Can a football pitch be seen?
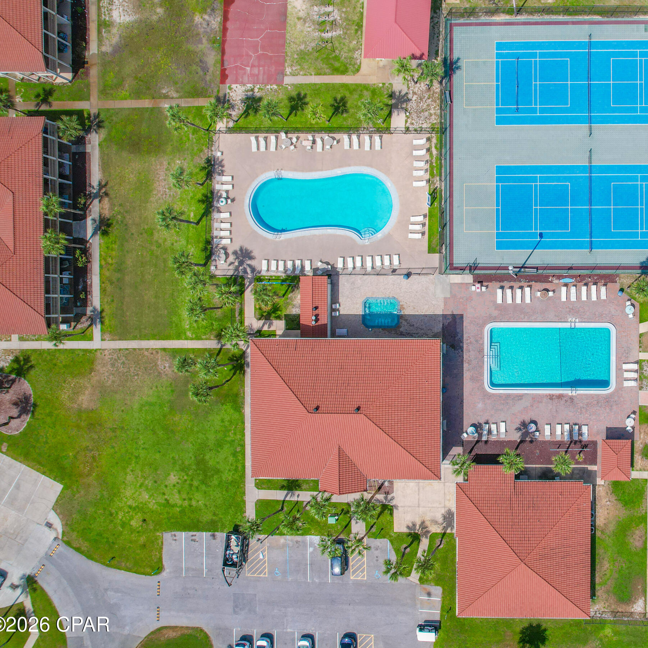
No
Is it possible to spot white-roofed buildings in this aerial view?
No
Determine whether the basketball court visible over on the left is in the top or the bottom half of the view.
top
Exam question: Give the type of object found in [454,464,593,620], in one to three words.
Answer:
building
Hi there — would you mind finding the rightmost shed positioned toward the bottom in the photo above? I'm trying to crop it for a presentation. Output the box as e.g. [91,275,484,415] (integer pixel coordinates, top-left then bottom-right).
[601,438,632,482]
